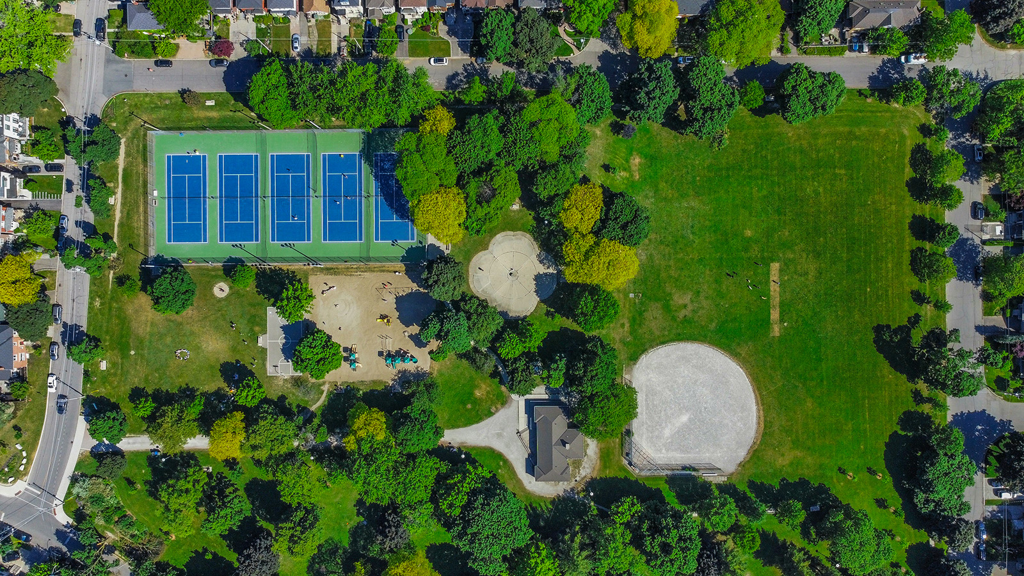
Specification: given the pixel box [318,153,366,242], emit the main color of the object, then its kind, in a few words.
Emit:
blue tennis court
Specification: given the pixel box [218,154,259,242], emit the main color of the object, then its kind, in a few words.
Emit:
blue tennis court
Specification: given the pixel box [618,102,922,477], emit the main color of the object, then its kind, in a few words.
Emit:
green sports field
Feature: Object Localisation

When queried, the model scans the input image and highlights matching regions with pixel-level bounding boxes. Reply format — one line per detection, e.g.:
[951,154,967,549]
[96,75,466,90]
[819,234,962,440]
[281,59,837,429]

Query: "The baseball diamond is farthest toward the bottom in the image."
[624,340,760,476]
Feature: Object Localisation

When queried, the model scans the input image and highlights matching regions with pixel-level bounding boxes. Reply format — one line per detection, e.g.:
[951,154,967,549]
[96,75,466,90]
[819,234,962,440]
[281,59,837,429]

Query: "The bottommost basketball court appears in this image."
[267,307,302,375]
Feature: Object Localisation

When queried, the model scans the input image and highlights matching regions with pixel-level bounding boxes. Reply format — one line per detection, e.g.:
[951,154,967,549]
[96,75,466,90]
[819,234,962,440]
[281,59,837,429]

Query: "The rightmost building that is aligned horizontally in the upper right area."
[844,0,921,34]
